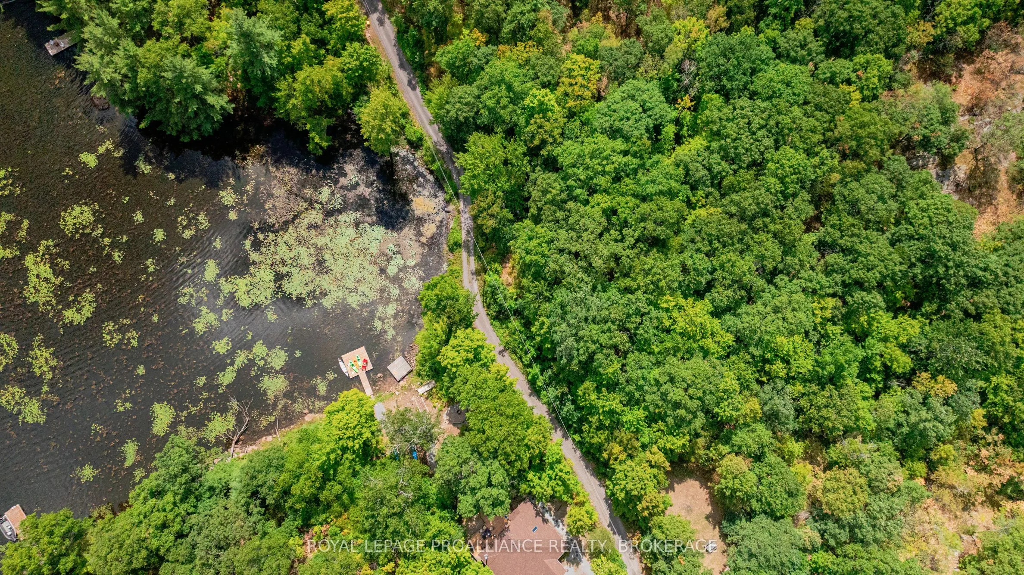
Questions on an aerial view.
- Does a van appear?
No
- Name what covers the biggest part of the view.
trees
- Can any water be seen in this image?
Yes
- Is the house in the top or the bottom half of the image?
bottom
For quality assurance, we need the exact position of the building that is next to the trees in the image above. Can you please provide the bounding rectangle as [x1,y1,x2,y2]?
[485,496,575,575]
